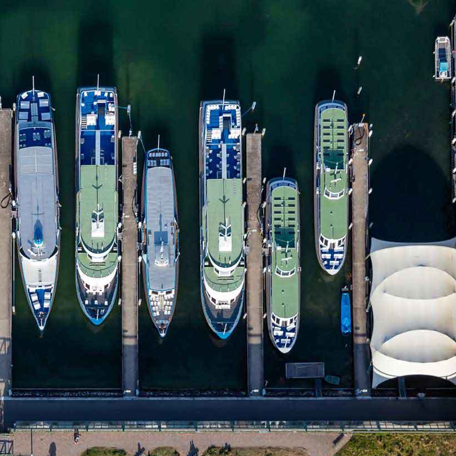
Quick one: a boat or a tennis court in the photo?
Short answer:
boat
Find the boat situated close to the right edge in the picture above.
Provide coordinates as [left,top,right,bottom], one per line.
[433,37,452,84]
